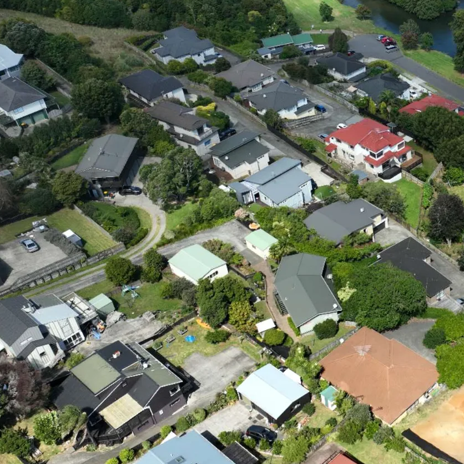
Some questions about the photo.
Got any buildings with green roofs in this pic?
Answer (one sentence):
Yes, this view includes a building with a green roof.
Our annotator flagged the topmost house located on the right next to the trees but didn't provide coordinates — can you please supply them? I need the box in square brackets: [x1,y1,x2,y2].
[258,34,313,63]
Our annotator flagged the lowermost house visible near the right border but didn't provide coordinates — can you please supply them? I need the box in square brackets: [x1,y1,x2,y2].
[320,331,442,431]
